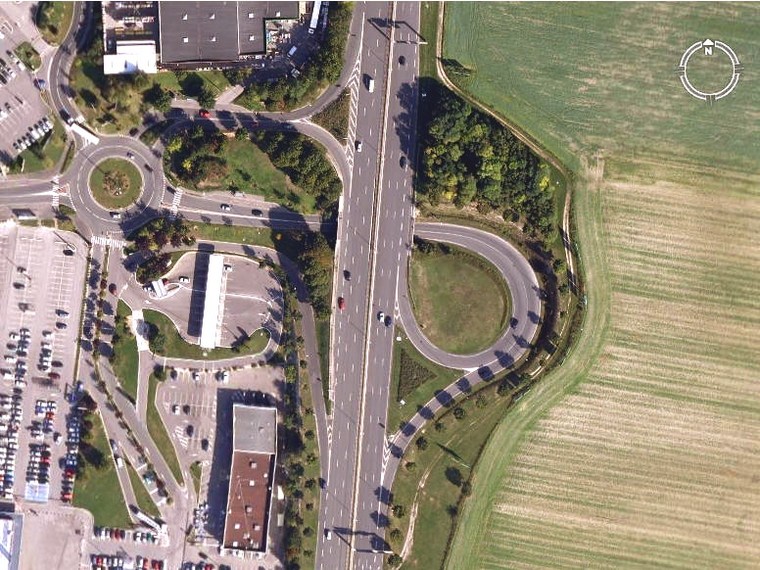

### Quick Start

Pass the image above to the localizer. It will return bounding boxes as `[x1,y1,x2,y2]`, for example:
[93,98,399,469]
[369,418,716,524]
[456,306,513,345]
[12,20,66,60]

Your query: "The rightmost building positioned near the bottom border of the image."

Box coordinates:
[220,404,277,561]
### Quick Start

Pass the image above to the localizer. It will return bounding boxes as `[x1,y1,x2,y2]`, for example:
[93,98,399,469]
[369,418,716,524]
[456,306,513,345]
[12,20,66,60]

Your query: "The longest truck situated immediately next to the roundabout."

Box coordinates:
[65,118,99,145]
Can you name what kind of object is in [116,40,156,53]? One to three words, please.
greenhouse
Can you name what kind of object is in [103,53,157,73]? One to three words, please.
building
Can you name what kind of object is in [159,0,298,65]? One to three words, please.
building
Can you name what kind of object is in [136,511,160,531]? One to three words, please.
bus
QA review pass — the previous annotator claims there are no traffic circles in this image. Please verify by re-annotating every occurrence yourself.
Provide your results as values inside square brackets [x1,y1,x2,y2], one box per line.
[70,137,164,230]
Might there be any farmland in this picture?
Yes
